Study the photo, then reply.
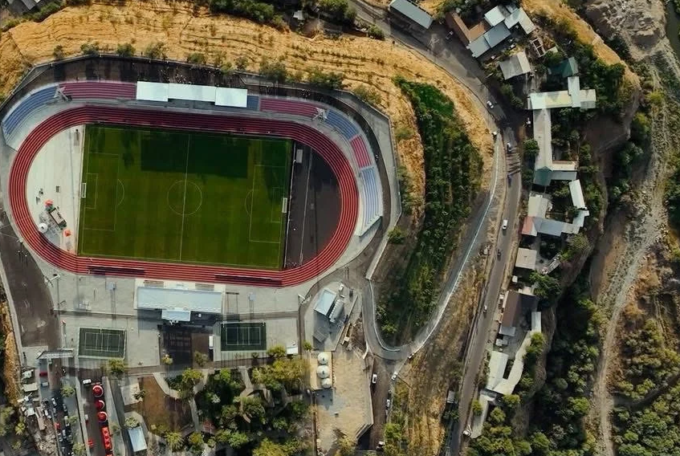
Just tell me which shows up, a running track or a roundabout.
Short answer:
running track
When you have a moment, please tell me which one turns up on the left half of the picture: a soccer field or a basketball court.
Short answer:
soccer field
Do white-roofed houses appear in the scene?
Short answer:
Yes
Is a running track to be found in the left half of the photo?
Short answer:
Yes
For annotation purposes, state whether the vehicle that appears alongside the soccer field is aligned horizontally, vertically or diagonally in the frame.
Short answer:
diagonally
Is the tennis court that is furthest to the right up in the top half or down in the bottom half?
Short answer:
bottom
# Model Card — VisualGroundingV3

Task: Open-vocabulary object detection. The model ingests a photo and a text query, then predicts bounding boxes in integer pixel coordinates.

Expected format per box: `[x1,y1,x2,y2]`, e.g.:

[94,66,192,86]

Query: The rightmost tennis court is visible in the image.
[221,323,267,351]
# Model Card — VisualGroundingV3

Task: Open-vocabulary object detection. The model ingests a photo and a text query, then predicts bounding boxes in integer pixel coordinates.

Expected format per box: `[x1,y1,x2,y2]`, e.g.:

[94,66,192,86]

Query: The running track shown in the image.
[8,105,360,288]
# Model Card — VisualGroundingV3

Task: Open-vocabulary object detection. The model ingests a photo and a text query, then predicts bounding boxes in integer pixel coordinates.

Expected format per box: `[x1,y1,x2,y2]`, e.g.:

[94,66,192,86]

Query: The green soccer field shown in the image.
[73,123,295,270]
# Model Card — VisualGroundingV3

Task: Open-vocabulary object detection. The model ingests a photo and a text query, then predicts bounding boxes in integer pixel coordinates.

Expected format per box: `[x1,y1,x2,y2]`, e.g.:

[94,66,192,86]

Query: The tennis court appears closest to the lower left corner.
[78,327,127,359]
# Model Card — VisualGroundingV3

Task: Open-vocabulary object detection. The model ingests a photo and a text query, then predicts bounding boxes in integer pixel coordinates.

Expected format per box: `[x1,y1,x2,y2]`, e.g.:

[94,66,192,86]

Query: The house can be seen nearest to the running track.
[313,288,338,316]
